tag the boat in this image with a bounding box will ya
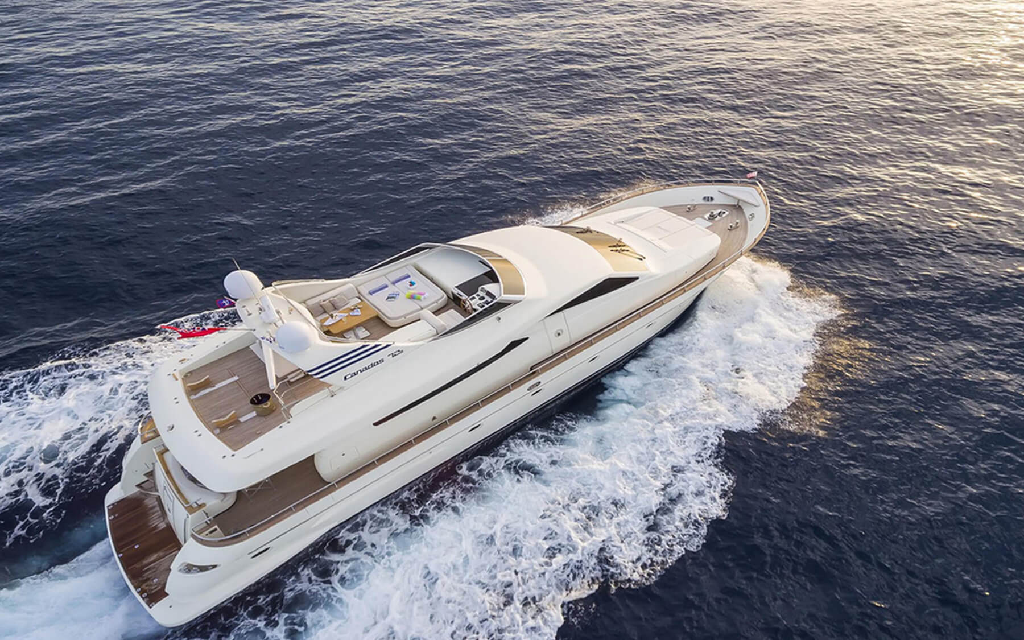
[104,175,770,629]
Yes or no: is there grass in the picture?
No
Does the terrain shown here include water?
Yes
